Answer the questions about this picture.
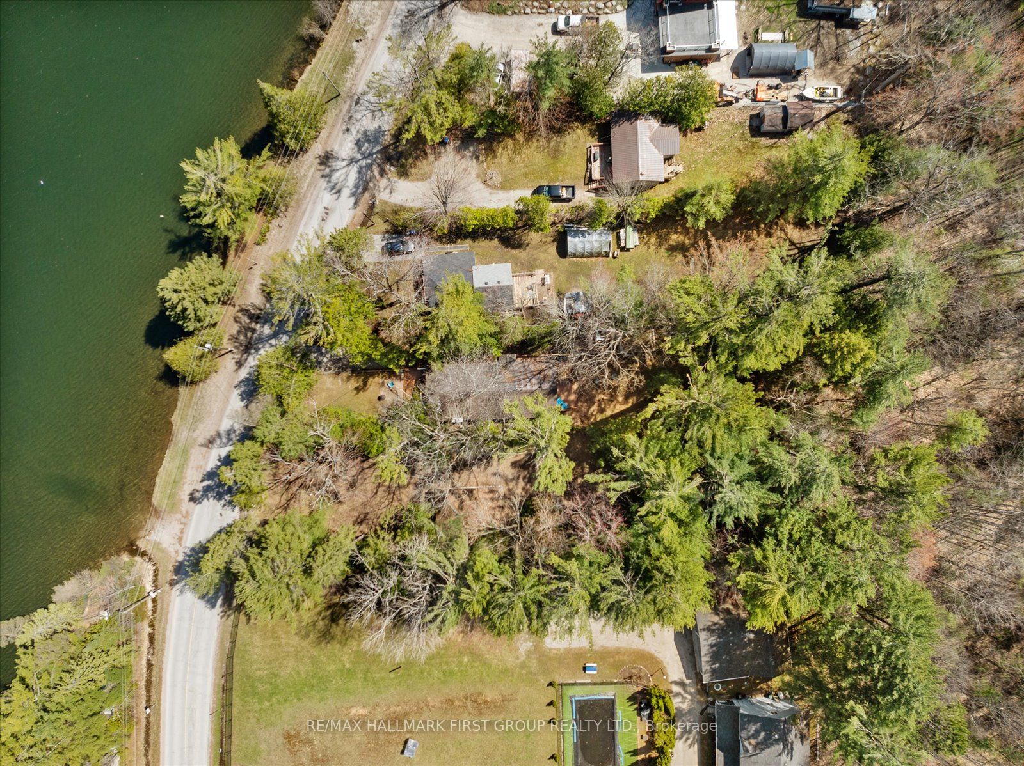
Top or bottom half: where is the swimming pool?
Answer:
bottom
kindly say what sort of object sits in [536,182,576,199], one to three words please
vehicle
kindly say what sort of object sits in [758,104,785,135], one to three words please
shed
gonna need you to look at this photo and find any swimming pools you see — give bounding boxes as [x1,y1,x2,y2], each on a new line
[562,684,654,766]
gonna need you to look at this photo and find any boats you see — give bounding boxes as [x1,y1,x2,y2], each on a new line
[806,83,849,100]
